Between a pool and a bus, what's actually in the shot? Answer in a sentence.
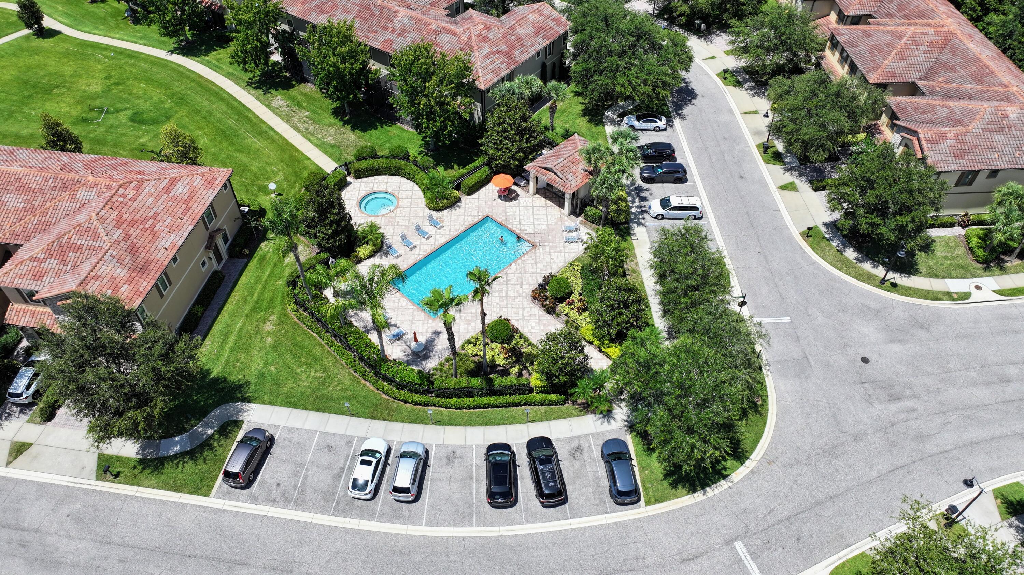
It is a pool that can be seen here.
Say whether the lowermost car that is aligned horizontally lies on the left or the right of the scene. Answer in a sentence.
The lowermost car that is aligned horizontally sits on the right side.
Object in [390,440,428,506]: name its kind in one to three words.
car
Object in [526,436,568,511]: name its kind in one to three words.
car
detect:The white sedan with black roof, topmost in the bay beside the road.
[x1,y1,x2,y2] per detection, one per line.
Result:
[621,112,668,131]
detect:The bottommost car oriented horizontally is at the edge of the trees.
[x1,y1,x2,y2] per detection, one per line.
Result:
[647,192,705,219]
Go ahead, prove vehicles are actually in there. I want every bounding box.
[647,192,705,219]
[346,436,388,503]
[220,427,273,491]
[483,442,517,511]
[633,140,679,163]
[602,439,641,507]
[390,440,428,506]
[621,112,668,131]
[638,159,690,184]
[526,436,568,511]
